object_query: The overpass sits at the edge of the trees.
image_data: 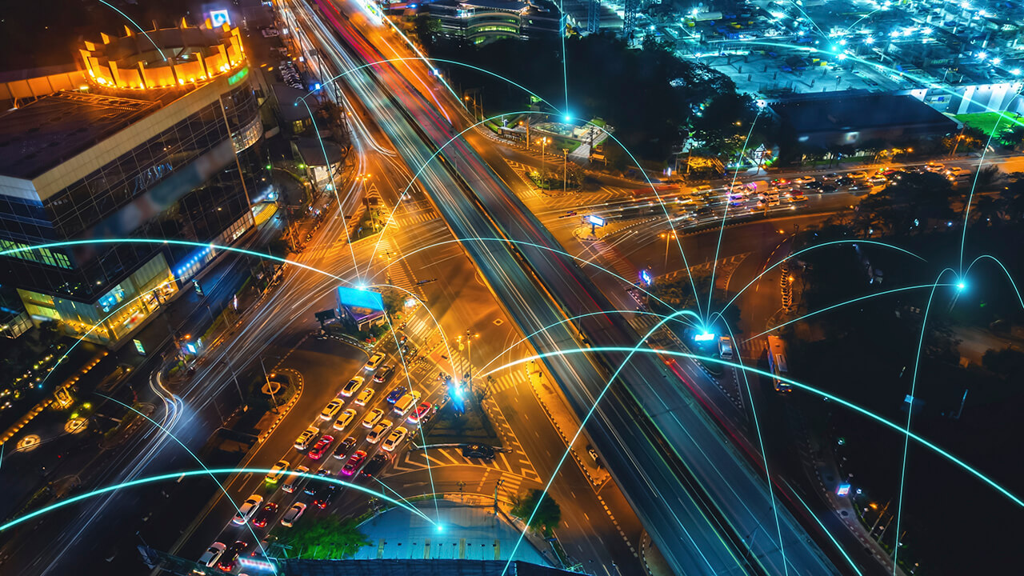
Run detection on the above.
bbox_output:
[296,0,849,576]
